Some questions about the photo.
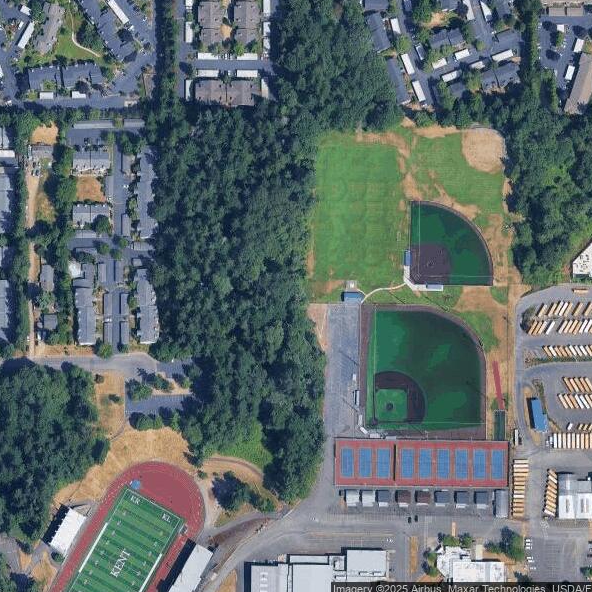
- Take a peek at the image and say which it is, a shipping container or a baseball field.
baseball field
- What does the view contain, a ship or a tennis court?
tennis court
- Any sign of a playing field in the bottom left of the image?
Yes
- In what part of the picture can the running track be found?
bottom left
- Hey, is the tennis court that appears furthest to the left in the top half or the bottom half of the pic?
bottom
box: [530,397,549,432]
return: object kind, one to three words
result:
shed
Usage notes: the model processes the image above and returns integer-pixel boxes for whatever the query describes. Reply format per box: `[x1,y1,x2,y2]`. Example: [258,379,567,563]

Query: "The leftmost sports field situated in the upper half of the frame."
[315,146,404,287]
